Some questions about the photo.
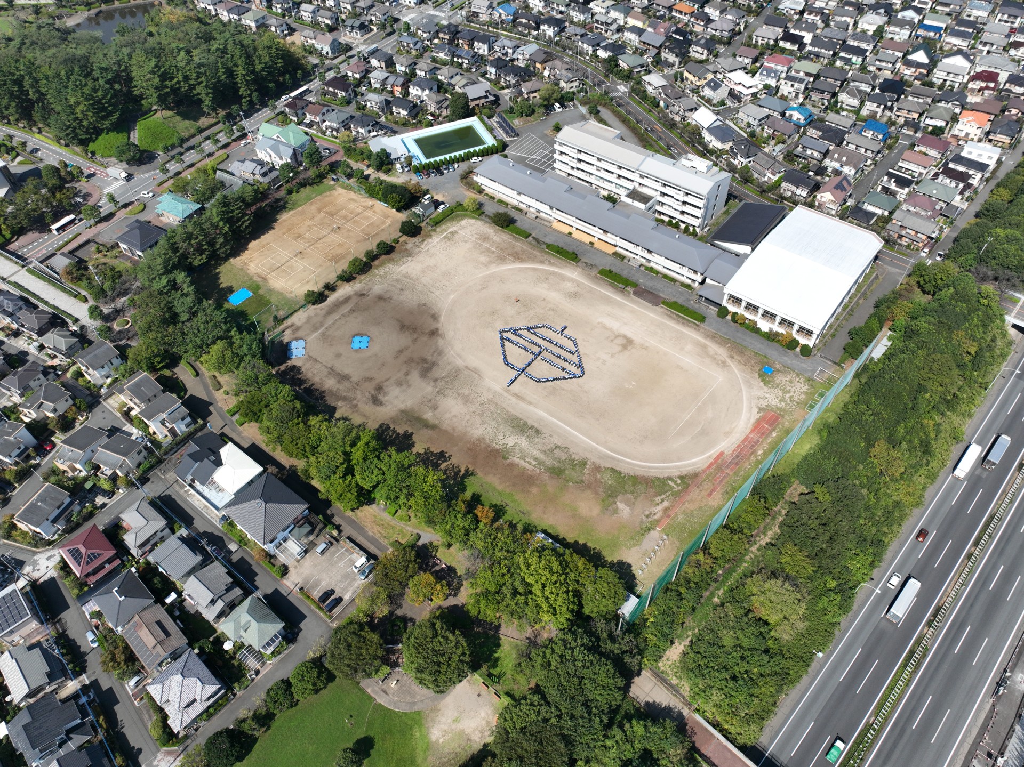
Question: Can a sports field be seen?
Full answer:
Yes, you can see a sports field in this photo.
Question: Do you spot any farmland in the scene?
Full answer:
No, there's no farmland in this view.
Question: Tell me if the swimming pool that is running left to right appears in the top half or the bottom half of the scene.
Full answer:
Seen from above, the swimming pool that is running left to right lies in the top half of the view.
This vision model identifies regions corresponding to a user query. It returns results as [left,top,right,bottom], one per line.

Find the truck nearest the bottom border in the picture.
[822,730,850,764]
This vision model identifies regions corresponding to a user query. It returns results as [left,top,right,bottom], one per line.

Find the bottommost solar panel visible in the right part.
[822,178,851,200]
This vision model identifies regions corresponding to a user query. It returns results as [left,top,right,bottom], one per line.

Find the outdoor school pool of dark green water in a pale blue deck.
[397,112,496,165]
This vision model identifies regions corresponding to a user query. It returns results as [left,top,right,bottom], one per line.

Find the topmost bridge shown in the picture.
[994,291,1024,338]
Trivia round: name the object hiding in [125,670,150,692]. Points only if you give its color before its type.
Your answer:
gray car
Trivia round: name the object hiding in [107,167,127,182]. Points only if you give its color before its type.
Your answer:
white vehicle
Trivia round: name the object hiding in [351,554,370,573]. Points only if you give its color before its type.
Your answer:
white vehicle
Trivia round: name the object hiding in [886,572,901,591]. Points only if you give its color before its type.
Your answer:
white car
